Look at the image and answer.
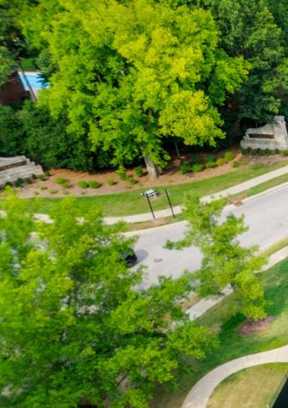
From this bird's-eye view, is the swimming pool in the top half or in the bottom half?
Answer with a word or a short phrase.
top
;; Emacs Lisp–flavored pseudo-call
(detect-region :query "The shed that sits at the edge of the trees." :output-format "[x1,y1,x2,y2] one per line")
[0,68,25,106]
